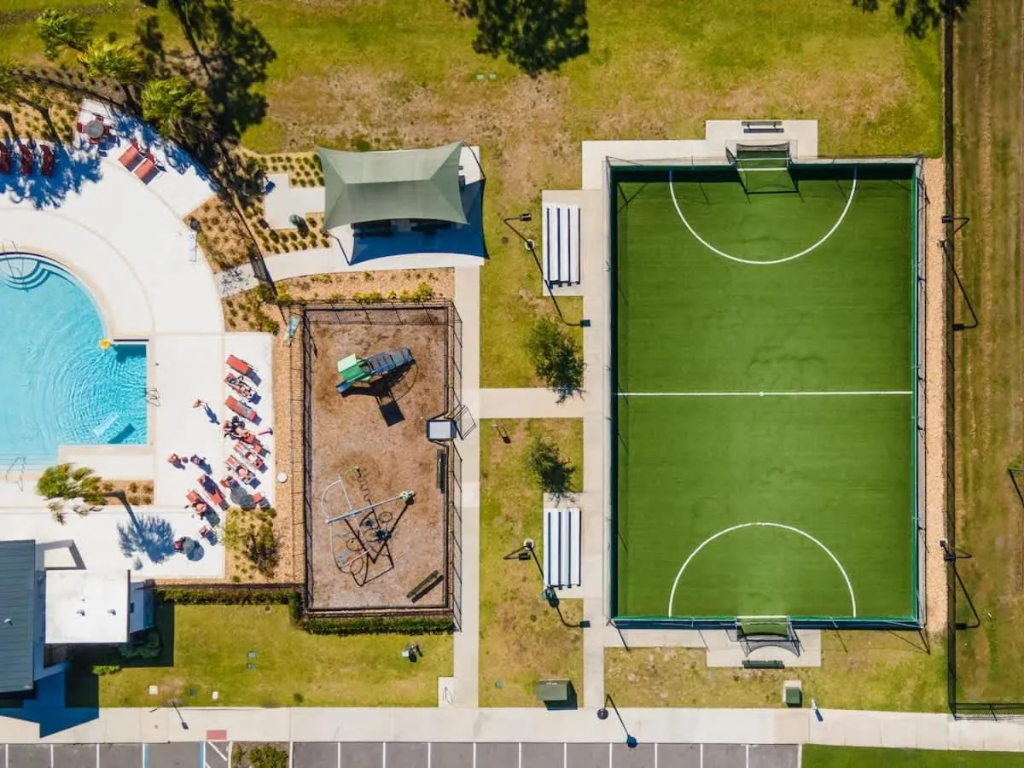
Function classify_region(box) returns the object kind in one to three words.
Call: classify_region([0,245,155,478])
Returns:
swimming pool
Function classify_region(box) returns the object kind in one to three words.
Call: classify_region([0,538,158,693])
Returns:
building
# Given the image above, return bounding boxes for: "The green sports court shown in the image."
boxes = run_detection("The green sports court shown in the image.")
[612,147,913,639]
